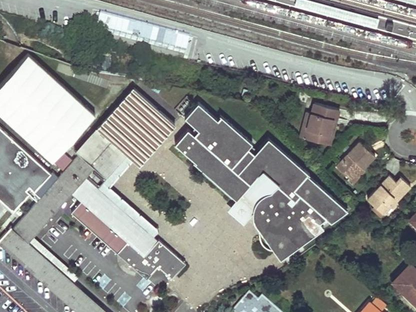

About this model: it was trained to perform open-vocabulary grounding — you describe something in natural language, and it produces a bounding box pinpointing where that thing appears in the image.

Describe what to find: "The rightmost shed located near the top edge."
[96,12,196,58]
